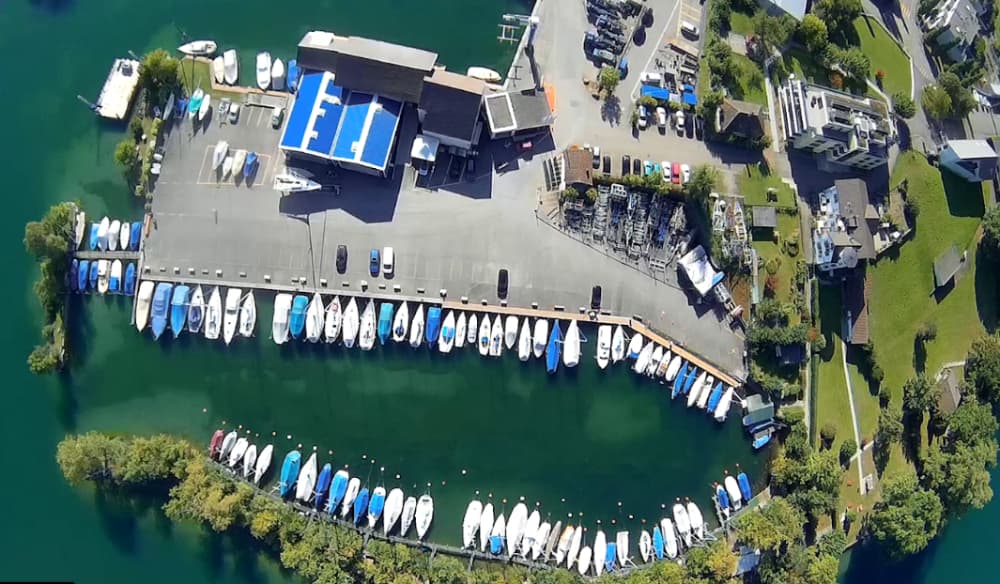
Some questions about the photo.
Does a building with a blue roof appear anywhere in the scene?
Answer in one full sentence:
Yes, there's a building with a blue roof down there.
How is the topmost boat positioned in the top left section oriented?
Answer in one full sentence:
What the image shows is the topmost boat positioned in the top left section lying from left to right.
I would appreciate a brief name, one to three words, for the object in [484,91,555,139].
building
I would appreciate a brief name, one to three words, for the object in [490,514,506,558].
boat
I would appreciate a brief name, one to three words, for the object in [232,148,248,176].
boat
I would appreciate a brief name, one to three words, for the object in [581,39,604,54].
car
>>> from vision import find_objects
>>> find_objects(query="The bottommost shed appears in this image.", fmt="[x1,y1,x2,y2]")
[738,545,760,573]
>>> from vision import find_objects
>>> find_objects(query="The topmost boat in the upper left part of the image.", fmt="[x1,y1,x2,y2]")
[178,33,220,55]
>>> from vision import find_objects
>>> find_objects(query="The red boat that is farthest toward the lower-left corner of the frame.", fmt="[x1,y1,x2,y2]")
[211,427,226,458]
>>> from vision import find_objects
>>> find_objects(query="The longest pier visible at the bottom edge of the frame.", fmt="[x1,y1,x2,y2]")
[203,451,769,583]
